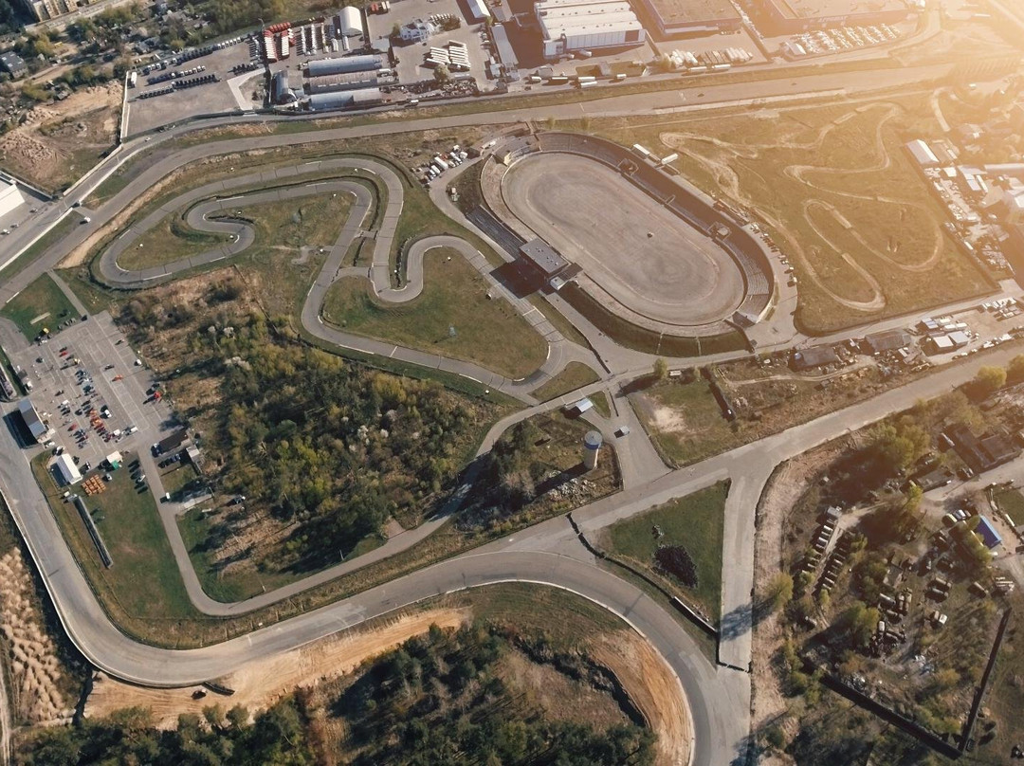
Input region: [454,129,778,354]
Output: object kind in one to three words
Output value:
stadium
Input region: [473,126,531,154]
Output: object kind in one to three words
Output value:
shed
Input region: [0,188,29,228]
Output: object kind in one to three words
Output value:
building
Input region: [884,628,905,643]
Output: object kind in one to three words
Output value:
vehicle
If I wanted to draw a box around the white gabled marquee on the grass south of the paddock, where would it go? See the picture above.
[54,452,82,485]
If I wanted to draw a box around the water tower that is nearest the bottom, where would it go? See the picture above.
[583,427,603,470]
